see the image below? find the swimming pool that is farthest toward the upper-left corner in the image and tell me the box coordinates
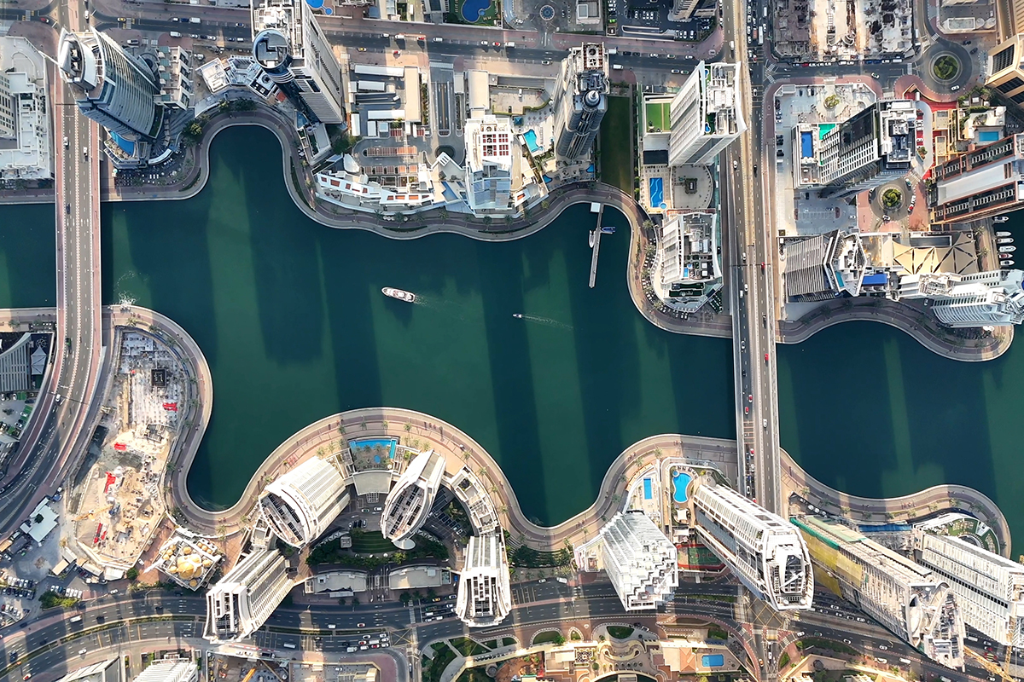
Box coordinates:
[108,127,137,155]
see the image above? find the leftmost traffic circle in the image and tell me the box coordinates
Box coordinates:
[871,177,913,219]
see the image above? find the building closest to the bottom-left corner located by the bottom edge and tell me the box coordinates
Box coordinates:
[55,649,122,682]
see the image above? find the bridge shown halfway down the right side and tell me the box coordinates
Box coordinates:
[724,127,788,591]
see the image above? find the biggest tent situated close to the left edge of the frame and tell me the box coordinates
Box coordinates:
[32,346,50,374]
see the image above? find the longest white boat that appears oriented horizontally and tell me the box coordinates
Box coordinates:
[382,288,417,303]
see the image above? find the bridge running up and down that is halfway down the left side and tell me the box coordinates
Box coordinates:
[0,59,104,542]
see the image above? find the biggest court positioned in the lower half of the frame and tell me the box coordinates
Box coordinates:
[678,544,725,570]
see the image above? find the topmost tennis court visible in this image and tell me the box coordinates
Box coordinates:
[642,100,673,137]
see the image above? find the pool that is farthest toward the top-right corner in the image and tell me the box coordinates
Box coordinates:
[799,128,816,160]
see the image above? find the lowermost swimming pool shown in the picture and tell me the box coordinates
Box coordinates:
[702,654,724,668]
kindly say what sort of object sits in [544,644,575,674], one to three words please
building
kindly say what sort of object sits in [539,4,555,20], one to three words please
fountain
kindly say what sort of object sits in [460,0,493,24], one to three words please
swimming pool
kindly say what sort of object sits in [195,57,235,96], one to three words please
house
